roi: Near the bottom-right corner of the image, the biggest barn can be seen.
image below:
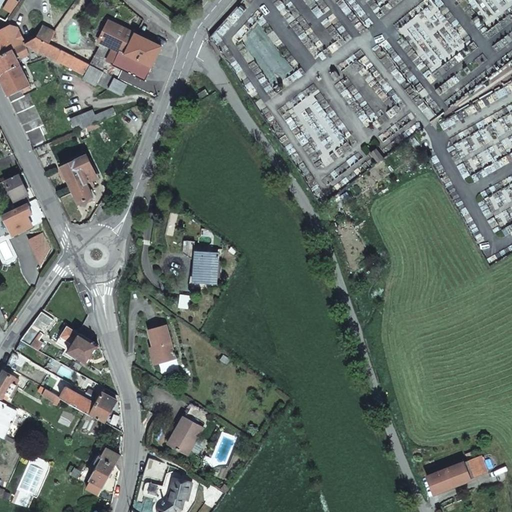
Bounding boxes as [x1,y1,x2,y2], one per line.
[426,456,489,496]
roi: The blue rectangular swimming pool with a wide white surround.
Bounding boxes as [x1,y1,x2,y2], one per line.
[204,434,238,468]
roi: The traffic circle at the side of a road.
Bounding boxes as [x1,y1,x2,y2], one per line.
[54,213,129,294]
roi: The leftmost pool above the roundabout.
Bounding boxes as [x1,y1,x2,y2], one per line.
[66,20,82,46]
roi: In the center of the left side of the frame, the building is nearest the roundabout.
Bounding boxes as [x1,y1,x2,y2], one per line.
[28,232,56,267]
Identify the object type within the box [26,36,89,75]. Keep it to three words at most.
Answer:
shed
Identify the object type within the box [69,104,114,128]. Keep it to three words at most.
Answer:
shed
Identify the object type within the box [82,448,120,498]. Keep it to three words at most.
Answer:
house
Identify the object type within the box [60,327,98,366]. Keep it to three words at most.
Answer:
house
